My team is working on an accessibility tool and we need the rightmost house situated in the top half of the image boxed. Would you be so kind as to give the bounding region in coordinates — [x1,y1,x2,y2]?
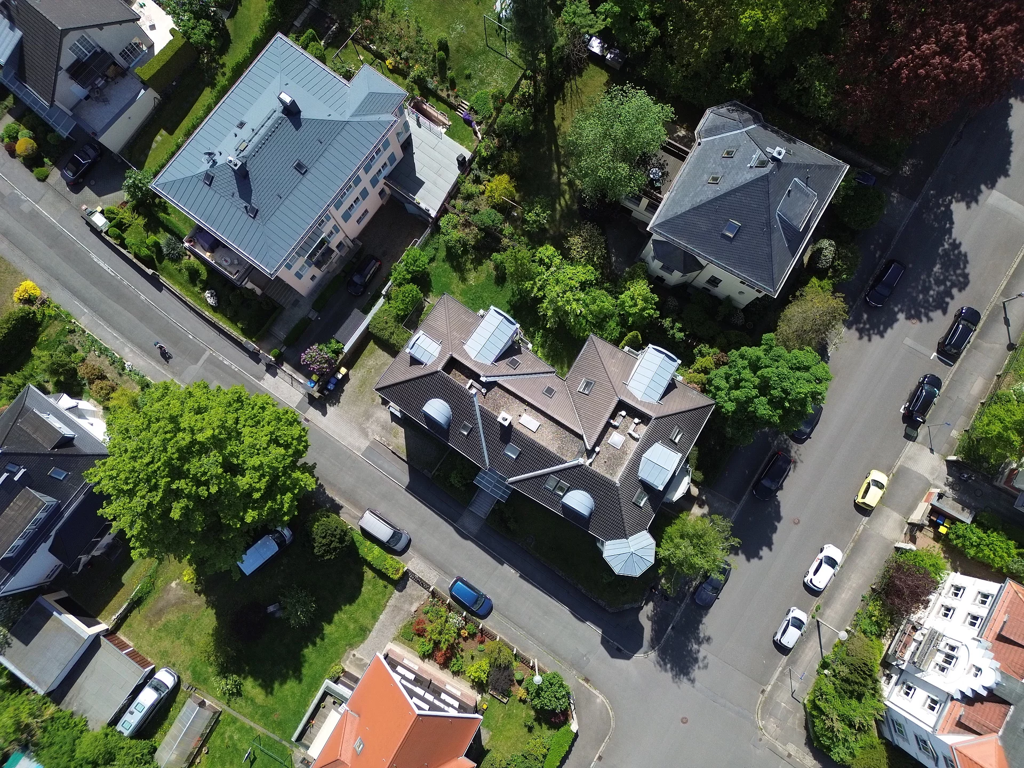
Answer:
[618,100,851,306]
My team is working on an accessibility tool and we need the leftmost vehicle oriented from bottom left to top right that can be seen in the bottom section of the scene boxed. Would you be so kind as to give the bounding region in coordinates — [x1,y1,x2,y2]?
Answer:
[114,664,185,735]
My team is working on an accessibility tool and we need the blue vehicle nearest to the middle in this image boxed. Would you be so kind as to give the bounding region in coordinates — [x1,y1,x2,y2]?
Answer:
[447,577,494,622]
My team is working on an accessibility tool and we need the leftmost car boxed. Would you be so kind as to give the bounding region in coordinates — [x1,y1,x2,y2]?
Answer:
[60,141,104,188]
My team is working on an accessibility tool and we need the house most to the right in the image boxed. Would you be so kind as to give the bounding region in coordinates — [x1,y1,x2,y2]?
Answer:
[996,460,1024,510]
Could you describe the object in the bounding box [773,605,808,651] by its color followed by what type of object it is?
white car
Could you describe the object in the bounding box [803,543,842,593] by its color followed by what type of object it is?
white car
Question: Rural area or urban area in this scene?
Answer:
urban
